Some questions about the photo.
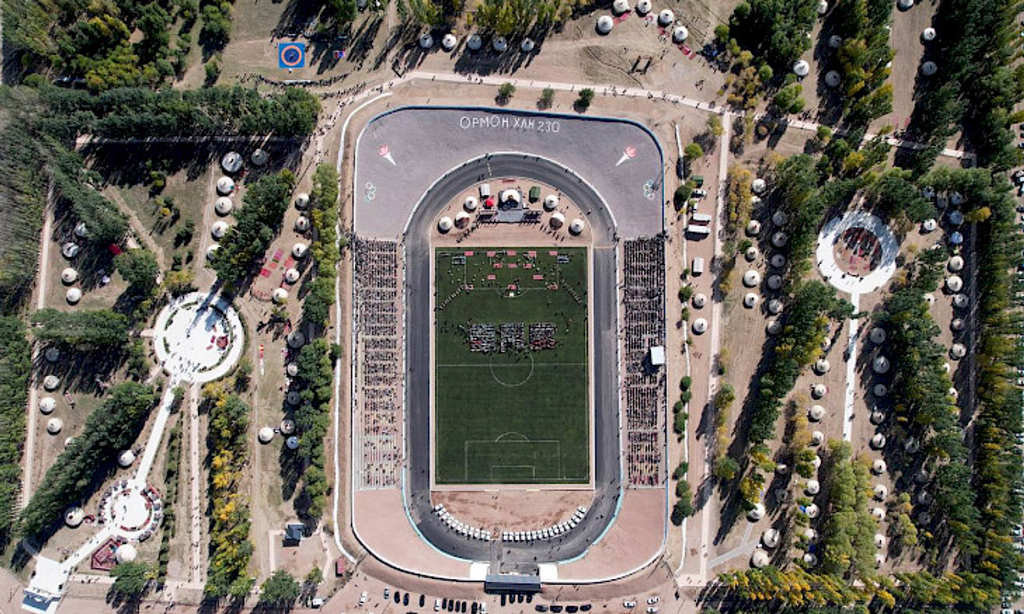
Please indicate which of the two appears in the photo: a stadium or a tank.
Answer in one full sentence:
This aerial view contains a stadium.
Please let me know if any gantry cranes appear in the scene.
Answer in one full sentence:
No, there appears to be no gantry crane in this shot.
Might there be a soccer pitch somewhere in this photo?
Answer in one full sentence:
Yes, I can see a soccer pitch in this picture.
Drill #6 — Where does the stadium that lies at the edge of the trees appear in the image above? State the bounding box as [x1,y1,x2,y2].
[352,106,668,582]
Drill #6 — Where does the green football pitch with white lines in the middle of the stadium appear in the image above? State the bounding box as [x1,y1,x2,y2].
[430,245,594,490]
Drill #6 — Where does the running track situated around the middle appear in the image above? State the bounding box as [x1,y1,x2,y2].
[405,154,621,565]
